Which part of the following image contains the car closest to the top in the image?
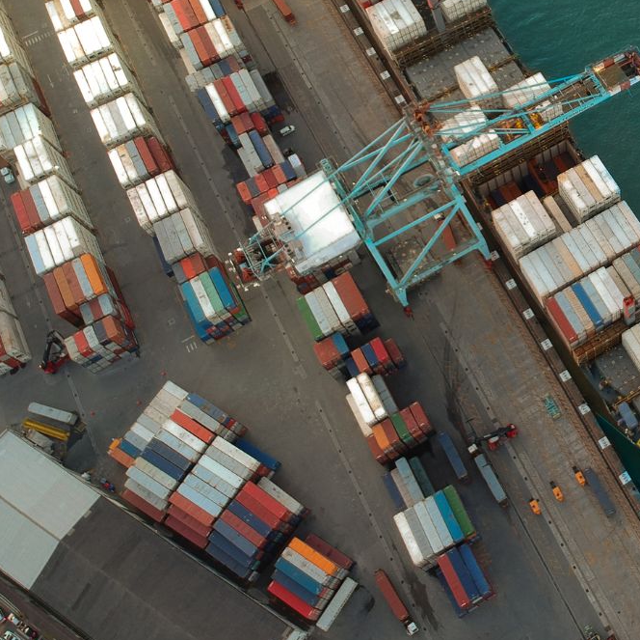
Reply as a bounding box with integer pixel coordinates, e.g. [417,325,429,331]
[280,126,294,139]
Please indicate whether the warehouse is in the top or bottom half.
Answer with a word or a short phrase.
bottom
